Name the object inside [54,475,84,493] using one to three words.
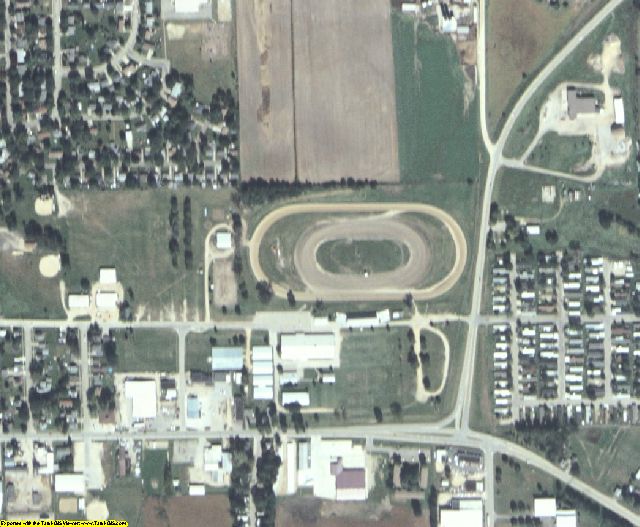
building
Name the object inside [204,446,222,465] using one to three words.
building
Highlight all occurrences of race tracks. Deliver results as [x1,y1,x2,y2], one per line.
[249,203,467,301]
